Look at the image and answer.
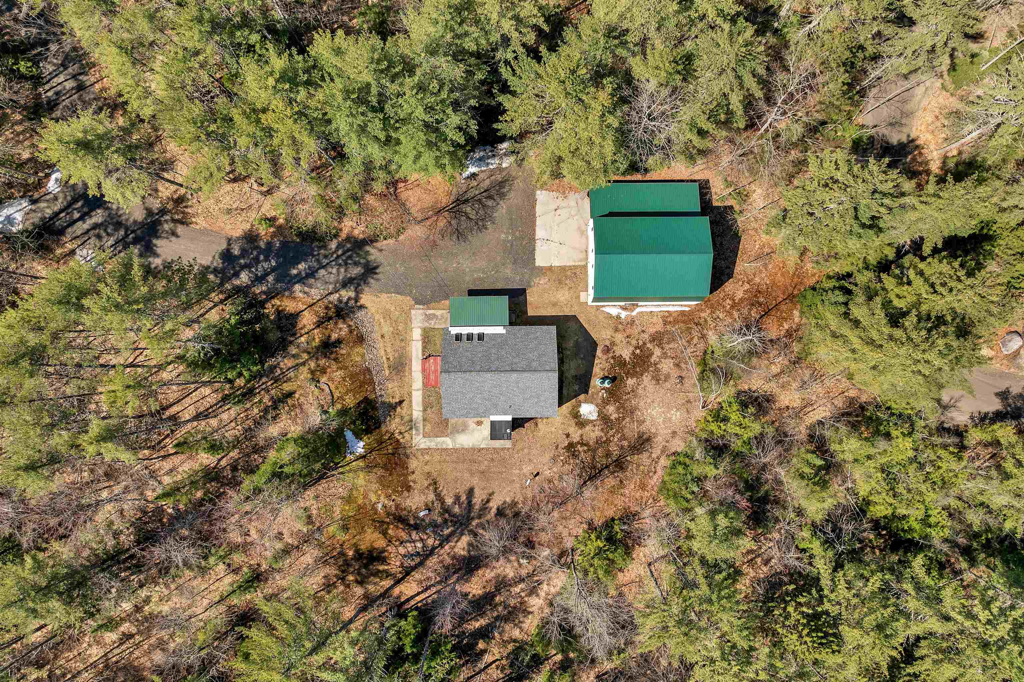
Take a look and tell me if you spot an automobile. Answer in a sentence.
No, the scene contains no automobile.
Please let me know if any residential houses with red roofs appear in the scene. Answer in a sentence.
No, I can't see a single residential house with a red roof in this photo.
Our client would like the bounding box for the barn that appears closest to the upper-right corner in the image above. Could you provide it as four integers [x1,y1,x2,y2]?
[587,182,715,305]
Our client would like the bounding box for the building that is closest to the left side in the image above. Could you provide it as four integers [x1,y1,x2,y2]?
[439,296,558,440]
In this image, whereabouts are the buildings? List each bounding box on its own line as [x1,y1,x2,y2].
[587,182,715,305]
[439,296,558,440]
